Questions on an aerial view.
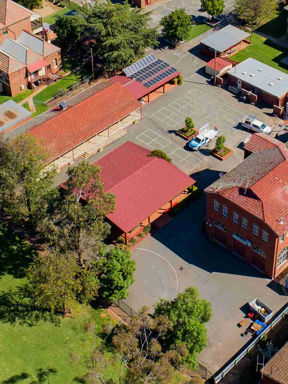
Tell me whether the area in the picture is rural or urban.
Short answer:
urban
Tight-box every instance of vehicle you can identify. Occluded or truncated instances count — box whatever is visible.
[191,127,216,148]
[242,115,272,135]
